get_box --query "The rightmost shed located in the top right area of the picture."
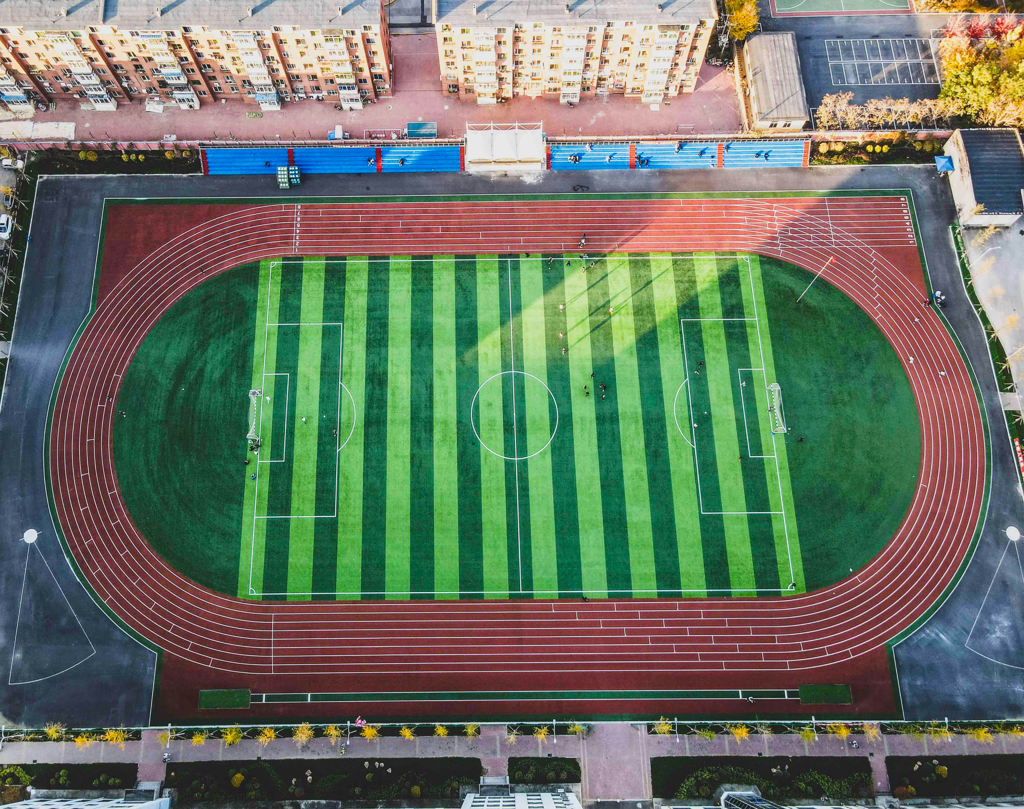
[944,127,1024,225]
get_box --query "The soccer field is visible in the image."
[117,251,918,601]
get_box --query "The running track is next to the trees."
[49,189,989,728]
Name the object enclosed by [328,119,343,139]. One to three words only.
vehicle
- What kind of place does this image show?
sports ground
